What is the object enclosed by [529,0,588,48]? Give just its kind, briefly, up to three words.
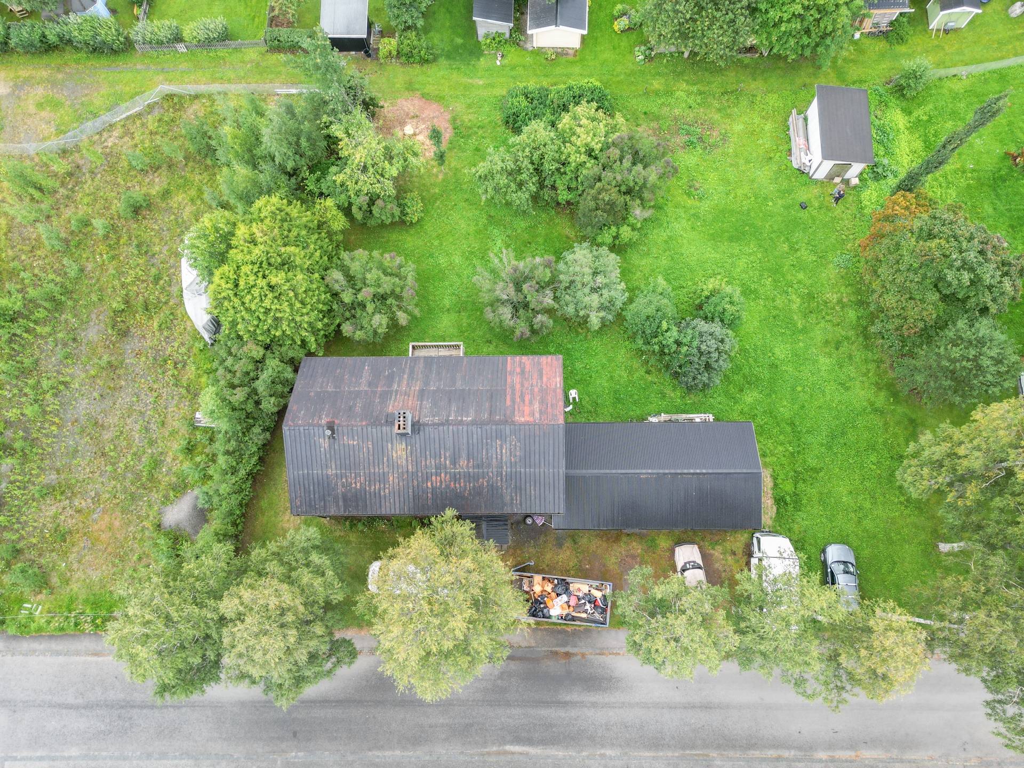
shed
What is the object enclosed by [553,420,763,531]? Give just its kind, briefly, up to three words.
building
